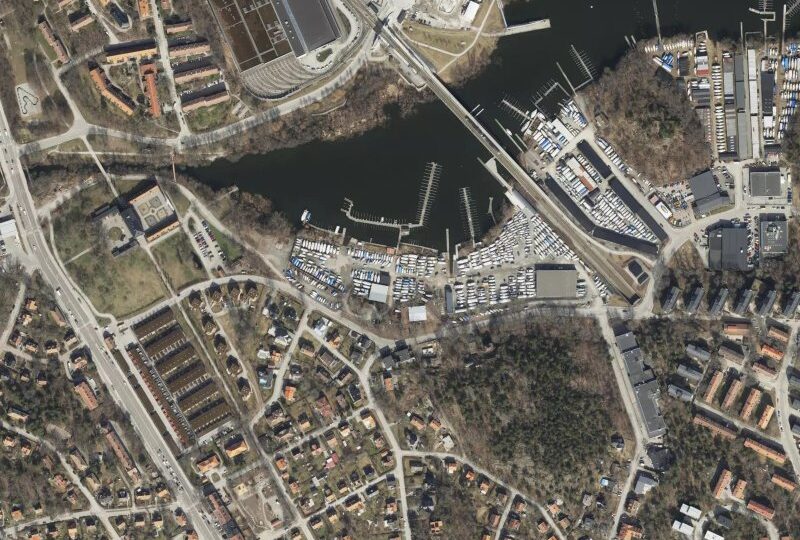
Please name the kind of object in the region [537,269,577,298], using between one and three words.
shed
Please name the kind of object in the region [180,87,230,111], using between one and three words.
building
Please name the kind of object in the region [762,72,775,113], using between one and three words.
shed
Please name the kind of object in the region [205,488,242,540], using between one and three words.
building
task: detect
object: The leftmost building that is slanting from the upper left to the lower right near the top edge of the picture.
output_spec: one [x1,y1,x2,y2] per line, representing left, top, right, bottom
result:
[38,22,69,61]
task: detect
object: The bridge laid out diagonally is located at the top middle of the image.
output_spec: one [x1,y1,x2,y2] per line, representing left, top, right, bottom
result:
[419,65,525,181]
